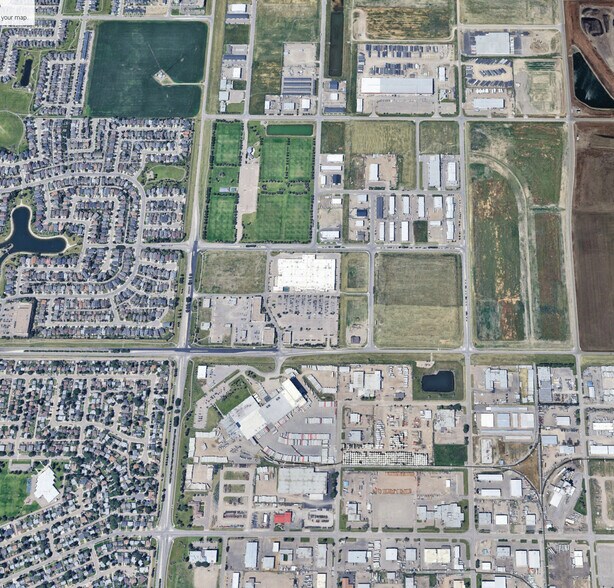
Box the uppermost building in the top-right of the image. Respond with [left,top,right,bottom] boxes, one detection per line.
[474,32,510,56]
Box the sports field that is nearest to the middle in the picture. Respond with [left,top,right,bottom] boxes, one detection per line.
[256,196,314,240]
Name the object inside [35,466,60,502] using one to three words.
building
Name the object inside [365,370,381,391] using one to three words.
building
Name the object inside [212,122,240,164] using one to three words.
sports field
